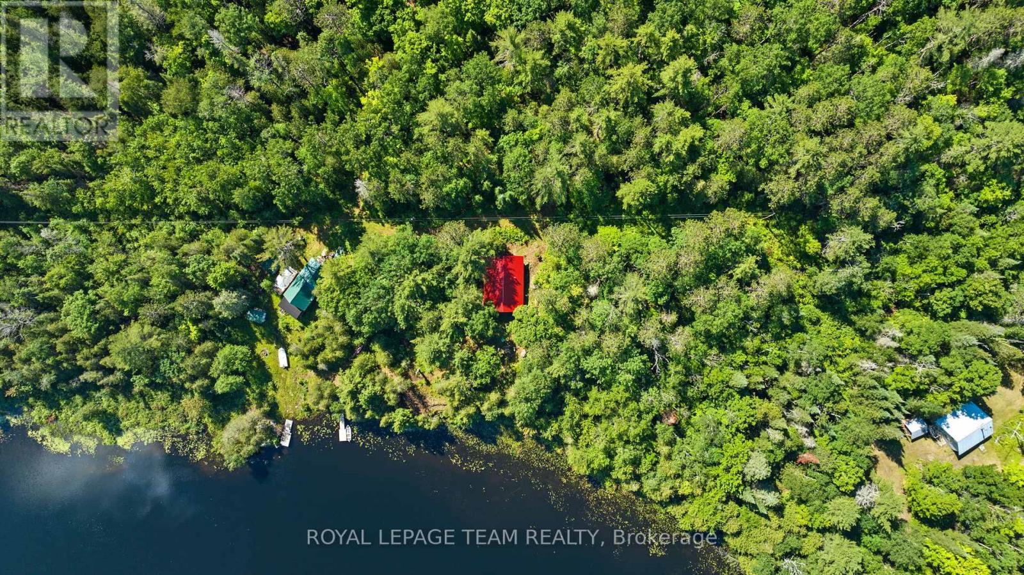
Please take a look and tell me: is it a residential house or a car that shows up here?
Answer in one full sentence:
Of the two, only a residential house appears.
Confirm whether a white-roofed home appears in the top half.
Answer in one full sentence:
No, there's no white-roofed home to be seen in the top half.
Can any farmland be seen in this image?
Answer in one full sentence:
No, farmland can't be seen anywhere here.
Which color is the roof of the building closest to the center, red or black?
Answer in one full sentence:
The roof of the building closest to the center looks red in the image.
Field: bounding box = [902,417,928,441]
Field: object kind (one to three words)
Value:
shed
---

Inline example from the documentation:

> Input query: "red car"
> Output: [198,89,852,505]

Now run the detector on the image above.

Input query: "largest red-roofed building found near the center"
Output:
[483,255,524,313]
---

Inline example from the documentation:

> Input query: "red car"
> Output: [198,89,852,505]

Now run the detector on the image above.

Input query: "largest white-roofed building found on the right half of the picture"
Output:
[931,404,993,457]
